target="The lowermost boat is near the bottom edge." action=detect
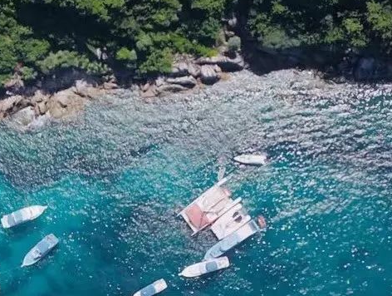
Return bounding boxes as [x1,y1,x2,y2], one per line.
[133,278,169,296]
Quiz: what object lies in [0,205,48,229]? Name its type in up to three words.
boat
